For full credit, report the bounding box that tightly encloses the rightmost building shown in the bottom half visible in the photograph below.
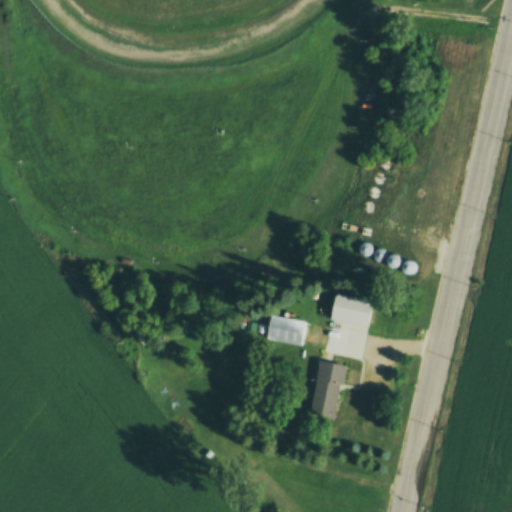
[332,296,374,328]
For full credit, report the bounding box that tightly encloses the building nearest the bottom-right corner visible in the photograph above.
[310,360,348,417]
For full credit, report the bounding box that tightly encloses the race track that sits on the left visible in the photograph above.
[31,0,330,68]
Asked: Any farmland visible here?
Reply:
Yes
